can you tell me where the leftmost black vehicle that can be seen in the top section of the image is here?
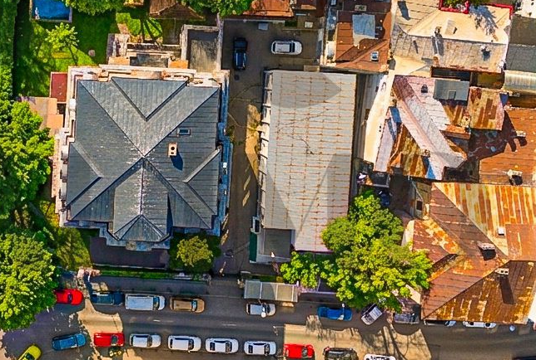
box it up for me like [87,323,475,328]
[232,35,249,71]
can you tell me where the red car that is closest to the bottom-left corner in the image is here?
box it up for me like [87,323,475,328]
[49,289,84,306]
